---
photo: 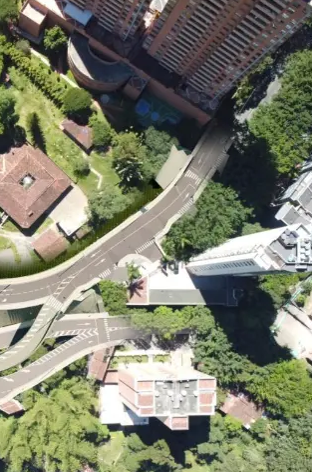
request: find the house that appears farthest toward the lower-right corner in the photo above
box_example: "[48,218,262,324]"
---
[221,396,264,425]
